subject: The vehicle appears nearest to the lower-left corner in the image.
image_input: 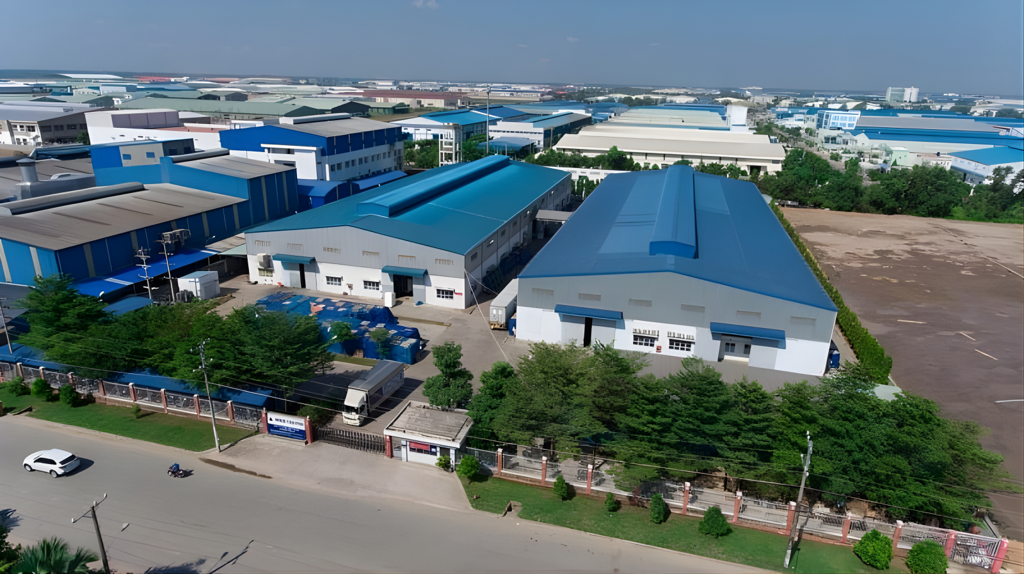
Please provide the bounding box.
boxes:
[22,447,83,477]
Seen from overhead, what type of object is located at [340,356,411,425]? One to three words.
truck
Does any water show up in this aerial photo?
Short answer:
No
